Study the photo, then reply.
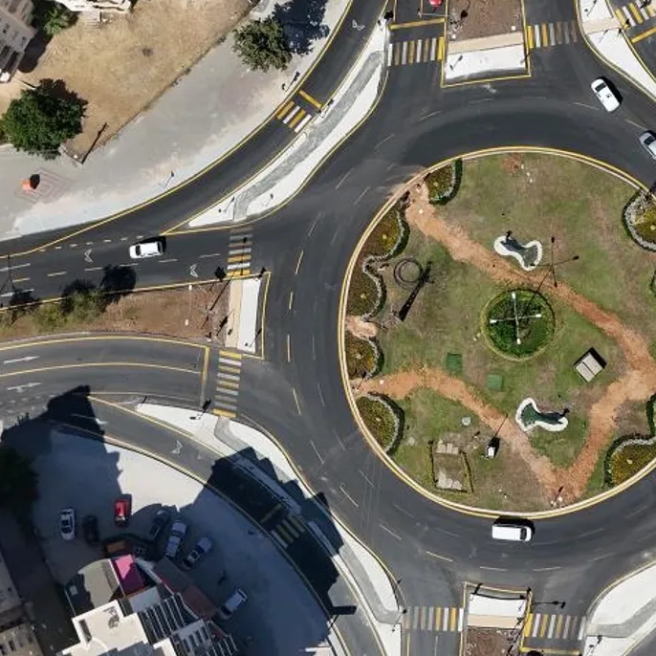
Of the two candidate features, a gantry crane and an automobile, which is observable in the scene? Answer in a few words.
automobile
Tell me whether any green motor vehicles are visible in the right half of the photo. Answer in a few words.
No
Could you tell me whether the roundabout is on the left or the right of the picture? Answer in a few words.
right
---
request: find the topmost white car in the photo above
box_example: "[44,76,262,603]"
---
[593,78,620,112]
